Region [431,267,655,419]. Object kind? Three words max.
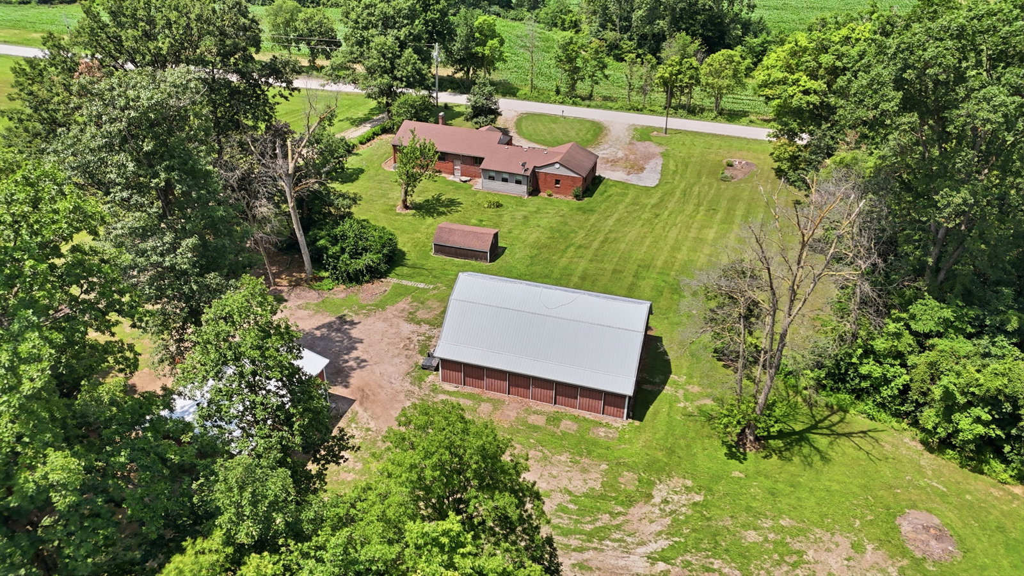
barn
